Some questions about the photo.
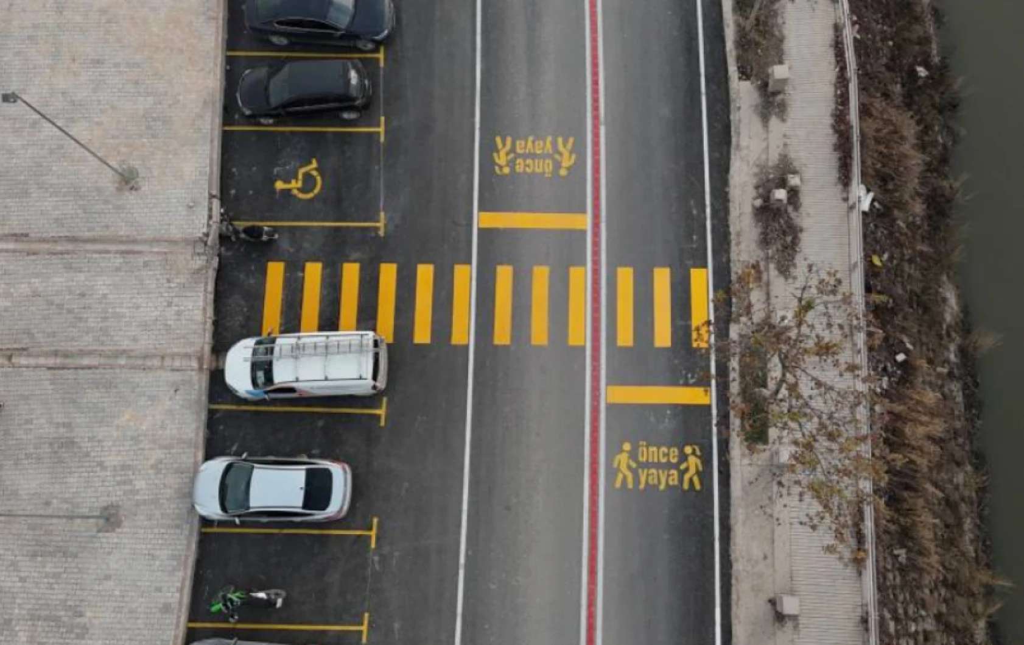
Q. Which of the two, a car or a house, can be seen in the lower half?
car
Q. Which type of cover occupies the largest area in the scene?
paved ground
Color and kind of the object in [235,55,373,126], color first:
black car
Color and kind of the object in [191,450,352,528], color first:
white car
